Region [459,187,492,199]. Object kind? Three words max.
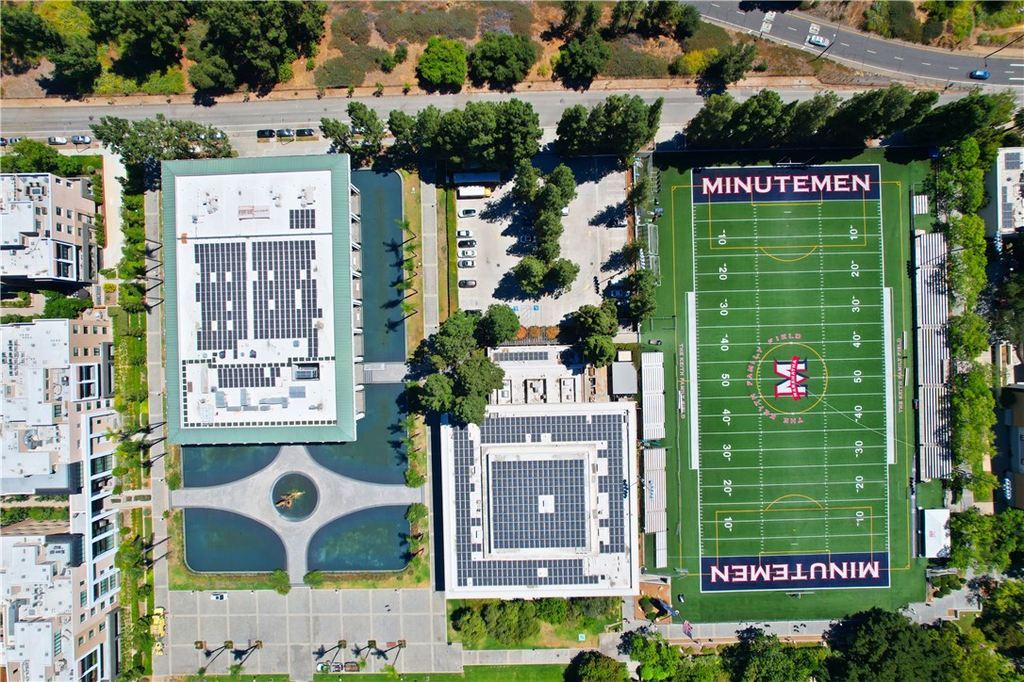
vehicle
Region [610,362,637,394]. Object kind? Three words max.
shed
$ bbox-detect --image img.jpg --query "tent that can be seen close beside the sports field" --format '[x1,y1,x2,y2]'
[918,506,950,558]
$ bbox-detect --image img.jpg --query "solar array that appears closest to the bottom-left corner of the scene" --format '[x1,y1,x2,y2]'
[218,368,280,387]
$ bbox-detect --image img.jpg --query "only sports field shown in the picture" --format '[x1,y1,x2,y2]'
[633,143,935,626]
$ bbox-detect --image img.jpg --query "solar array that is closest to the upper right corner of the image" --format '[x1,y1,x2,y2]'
[1006,151,1021,167]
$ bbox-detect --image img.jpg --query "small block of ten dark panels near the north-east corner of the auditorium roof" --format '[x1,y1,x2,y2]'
[290,209,315,229]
